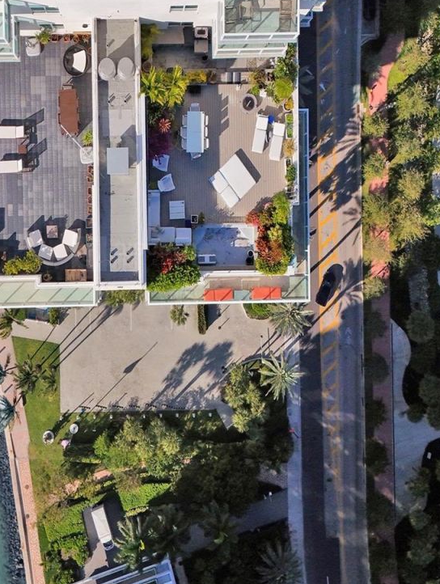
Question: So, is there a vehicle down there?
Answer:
Yes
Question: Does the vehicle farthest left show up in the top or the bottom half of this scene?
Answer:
bottom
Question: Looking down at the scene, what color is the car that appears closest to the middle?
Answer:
black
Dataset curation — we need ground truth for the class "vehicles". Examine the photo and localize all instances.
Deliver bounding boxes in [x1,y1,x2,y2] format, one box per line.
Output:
[315,266,342,304]
[361,0,376,21]
[90,501,115,549]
